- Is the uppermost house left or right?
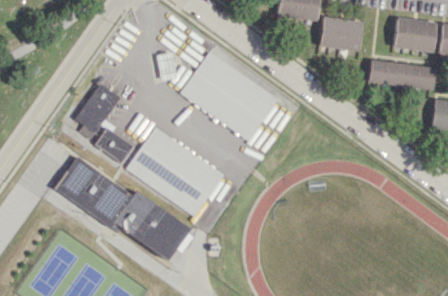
right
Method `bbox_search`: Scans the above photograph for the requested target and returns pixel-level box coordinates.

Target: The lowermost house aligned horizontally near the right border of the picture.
[369,61,437,93]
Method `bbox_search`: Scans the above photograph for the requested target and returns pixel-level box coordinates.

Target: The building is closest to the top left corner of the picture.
[78,85,120,137]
